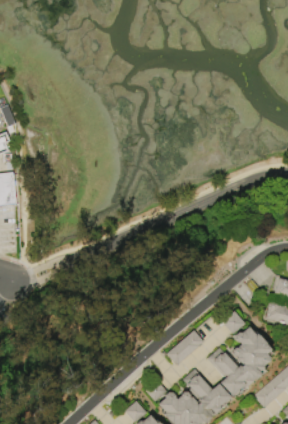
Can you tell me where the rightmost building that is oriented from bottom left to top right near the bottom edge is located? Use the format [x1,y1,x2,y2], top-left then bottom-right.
[255,366,288,406]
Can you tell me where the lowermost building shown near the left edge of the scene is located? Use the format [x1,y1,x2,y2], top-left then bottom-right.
[0,172,16,206]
